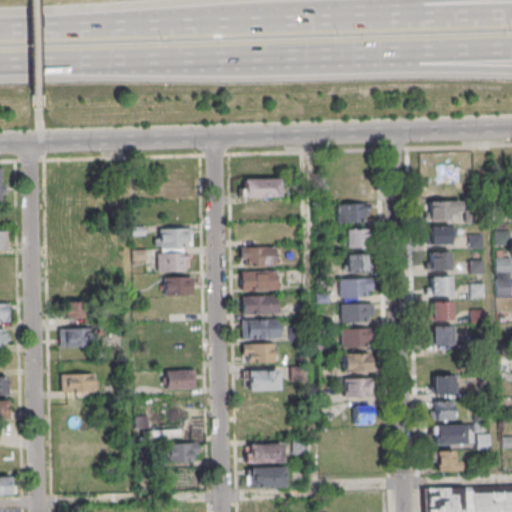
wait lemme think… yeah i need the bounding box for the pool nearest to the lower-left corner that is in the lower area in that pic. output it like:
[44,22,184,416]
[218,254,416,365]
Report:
[67,416,82,430]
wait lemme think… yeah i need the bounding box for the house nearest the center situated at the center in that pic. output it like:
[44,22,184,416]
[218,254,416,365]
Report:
[242,247,280,268]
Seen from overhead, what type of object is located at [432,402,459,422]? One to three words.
house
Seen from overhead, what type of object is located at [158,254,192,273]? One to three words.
house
